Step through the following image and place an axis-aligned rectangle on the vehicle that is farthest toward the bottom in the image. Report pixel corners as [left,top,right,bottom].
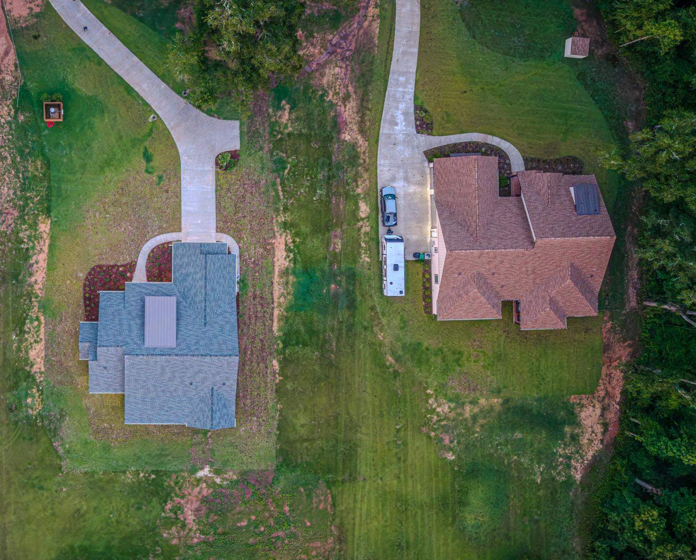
[381,228,404,297]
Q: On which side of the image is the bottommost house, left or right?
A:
left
